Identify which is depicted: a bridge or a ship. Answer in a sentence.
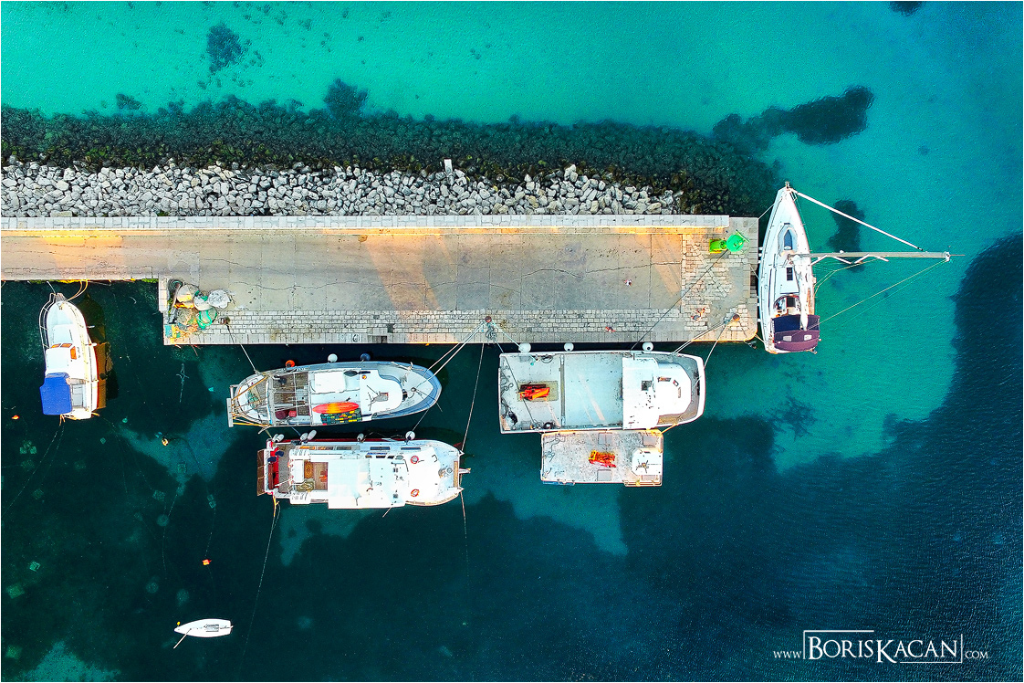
There is a ship in the scene.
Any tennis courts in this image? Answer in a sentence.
No, the frame has no tennis court in it.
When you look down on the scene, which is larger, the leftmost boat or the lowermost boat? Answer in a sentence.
The leftmost boat covers a greater area than the lowermost boat.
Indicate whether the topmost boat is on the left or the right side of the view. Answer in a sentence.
The topmost boat appears in the right half of the scene.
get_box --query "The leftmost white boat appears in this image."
[40,292,112,425]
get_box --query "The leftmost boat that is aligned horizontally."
[173,617,234,649]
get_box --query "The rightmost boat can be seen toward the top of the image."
[758,181,965,354]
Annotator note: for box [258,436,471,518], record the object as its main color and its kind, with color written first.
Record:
white boat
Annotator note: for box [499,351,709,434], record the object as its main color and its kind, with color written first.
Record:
white vessel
